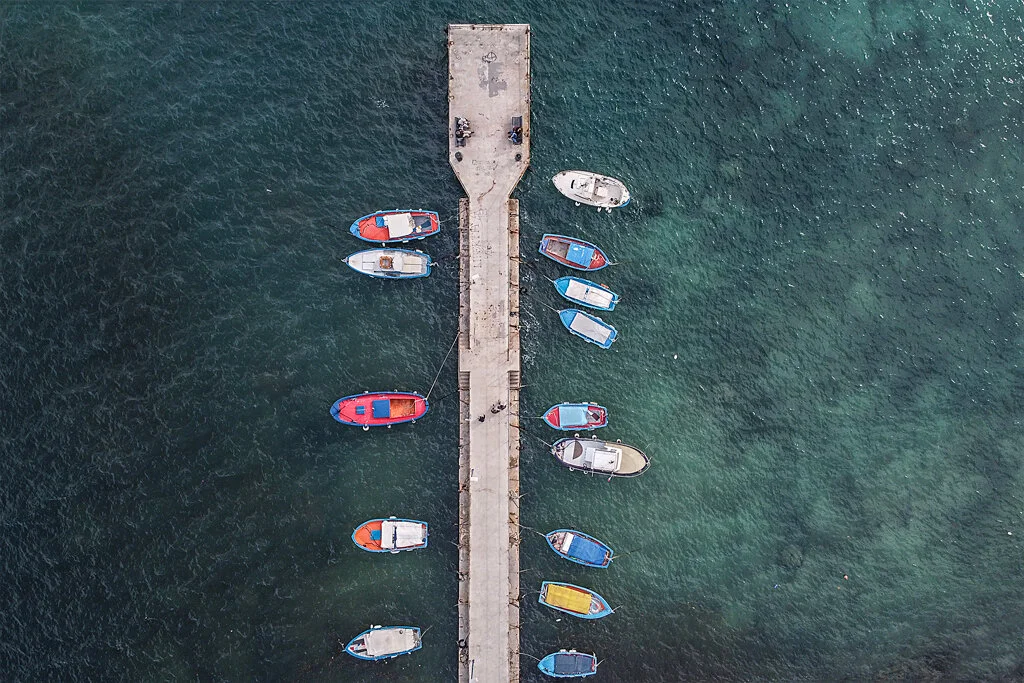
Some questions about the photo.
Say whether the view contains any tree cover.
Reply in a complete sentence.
No, the picture contains no tree cover.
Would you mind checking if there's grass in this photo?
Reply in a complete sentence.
No, the picture contains no grass.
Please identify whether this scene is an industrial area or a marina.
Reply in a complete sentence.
The area seen from above is a marina.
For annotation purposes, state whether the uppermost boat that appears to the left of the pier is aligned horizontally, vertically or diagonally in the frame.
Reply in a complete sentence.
The uppermost boat that appears to the left of the pier is laid out horizontally.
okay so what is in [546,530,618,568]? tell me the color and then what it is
blue boat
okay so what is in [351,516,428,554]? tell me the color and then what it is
white boat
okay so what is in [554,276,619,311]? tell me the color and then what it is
white boat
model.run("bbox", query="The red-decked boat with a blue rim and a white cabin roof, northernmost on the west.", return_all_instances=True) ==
[349,208,439,246]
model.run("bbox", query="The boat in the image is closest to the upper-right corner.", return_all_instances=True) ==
[552,170,630,213]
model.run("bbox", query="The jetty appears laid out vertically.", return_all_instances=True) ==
[448,24,530,683]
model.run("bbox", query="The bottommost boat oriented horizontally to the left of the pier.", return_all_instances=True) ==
[345,624,423,662]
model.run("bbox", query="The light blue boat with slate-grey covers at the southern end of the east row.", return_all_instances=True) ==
[538,649,597,677]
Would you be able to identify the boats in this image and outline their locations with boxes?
[345,624,423,662]
[345,249,435,279]
[543,401,608,431]
[329,389,429,431]
[554,276,619,311]
[351,516,428,554]
[349,208,439,246]
[539,234,610,271]
[538,580,613,619]
[559,308,617,349]
[538,649,597,677]
[552,170,630,213]
[546,530,618,568]
[552,433,650,482]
